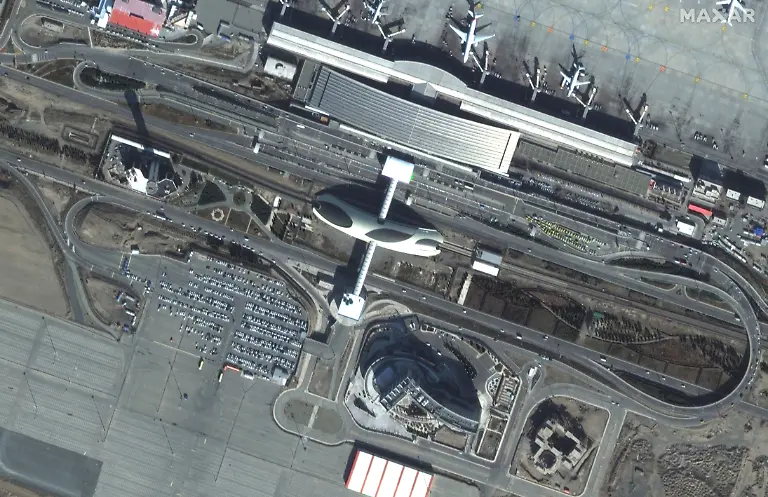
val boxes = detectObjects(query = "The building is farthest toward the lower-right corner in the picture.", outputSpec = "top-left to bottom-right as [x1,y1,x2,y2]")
[536,414,584,472]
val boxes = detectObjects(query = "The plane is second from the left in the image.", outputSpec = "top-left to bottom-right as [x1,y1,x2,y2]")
[448,14,494,63]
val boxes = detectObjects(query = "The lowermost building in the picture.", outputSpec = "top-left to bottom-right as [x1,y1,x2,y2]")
[346,448,435,497]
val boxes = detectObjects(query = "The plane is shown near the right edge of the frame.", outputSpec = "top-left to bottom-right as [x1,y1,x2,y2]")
[716,0,748,24]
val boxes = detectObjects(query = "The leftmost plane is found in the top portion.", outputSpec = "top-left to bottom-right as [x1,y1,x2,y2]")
[364,0,394,23]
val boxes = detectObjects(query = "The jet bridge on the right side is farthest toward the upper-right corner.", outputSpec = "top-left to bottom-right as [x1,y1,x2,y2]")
[625,105,649,135]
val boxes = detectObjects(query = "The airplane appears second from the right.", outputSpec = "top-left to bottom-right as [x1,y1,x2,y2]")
[560,66,590,97]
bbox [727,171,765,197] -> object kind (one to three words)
building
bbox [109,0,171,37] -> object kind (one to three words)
building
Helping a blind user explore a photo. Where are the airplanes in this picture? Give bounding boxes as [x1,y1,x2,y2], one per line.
[716,0,748,24]
[560,66,590,97]
[448,14,494,63]
[364,0,394,23]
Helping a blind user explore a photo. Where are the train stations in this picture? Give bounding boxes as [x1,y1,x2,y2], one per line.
[313,202,445,253]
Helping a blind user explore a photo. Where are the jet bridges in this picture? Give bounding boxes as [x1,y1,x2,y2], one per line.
[524,66,542,100]
[281,0,291,16]
[322,4,350,33]
[572,85,596,118]
[375,20,407,51]
[625,105,649,135]
[470,49,490,82]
